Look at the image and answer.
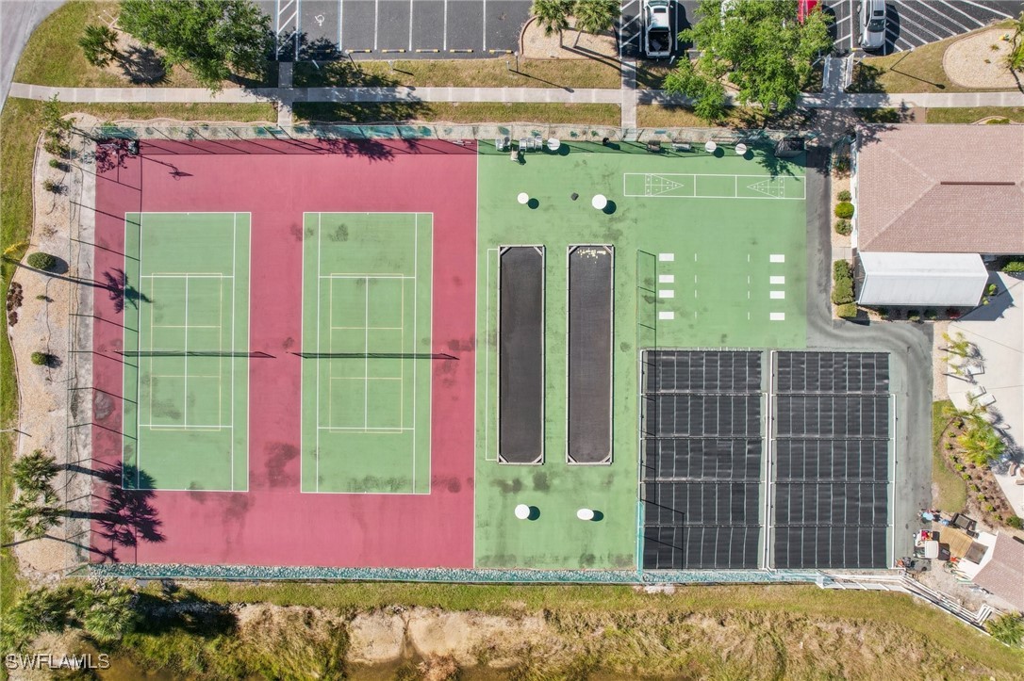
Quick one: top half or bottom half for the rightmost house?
bottom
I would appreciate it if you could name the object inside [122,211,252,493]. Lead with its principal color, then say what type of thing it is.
green tennis court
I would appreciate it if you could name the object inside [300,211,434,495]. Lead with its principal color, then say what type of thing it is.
green tennis court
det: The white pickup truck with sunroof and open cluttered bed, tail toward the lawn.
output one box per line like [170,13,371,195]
[642,0,672,59]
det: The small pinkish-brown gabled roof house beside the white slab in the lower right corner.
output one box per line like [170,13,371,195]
[973,531,1024,605]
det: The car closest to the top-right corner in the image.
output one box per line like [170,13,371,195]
[859,0,889,51]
